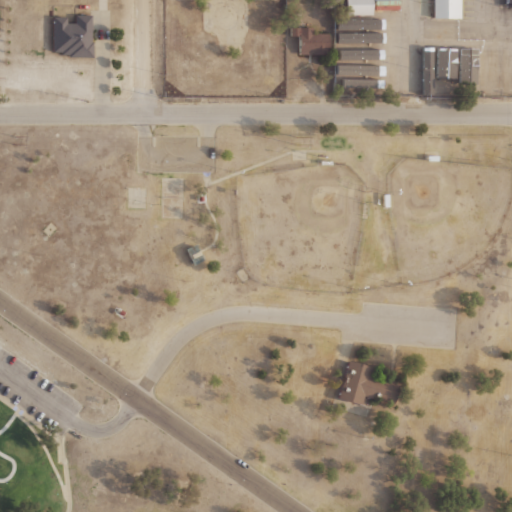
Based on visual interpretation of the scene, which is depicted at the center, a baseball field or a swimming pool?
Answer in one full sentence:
Looking at the center, you will find a baseball field.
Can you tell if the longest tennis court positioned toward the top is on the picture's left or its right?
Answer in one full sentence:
It is on the left.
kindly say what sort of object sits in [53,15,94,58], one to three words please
house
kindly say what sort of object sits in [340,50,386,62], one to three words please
building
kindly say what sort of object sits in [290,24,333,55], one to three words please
house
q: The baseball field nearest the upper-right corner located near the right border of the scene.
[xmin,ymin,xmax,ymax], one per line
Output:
[394,162,508,278]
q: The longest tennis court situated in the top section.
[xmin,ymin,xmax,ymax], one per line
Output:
[162,178,183,217]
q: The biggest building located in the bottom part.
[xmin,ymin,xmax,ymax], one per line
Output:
[340,362,402,408]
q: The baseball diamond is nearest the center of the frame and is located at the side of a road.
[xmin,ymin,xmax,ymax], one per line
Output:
[240,166,362,286]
